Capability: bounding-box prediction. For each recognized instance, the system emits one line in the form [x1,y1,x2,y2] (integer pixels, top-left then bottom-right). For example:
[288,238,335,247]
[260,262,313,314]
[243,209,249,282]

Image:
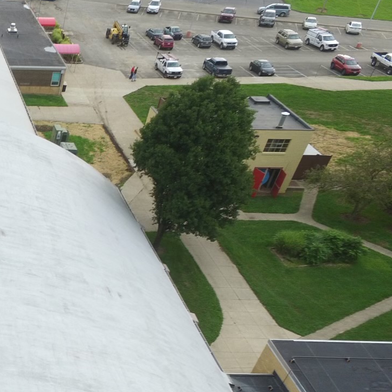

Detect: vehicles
[104,20,135,49]
[371,52,392,75]
[200,55,235,77]
[146,0,162,14]
[161,24,192,40]
[247,59,279,77]
[344,20,363,34]
[144,25,165,41]
[127,0,142,14]
[329,53,363,75]
[273,28,306,50]
[211,31,240,50]
[302,15,320,29]
[303,26,342,52]
[154,35,175,49]
[154,49,185,78]
[219,8,236,23]
[256,1,292,17]
[192,34,215,48]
